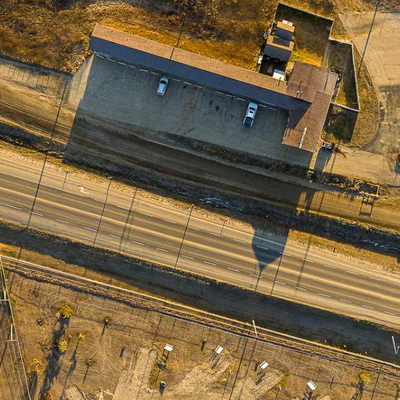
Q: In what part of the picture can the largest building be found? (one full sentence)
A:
The largest building is in the top part of the image.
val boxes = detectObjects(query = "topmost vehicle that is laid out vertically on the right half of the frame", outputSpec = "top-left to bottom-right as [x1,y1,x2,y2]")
[244,103,257,127]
